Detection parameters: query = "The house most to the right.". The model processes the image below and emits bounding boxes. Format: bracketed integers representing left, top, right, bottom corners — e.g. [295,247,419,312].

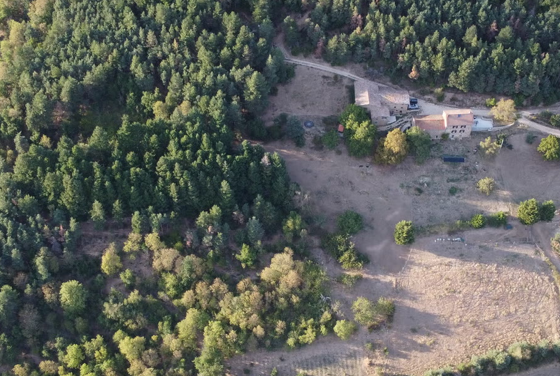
[409,109,474,143]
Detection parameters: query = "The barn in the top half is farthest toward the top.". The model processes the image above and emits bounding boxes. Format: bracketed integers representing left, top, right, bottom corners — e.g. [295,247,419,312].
[351,79,410,122]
